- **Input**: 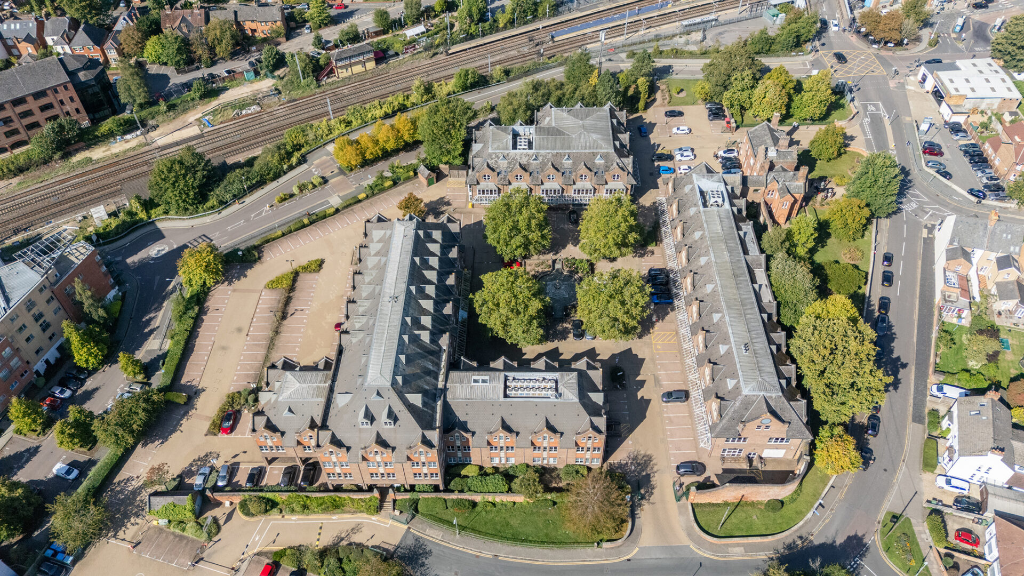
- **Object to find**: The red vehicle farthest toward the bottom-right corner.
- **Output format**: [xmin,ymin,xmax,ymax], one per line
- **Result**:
[953,529,981,546]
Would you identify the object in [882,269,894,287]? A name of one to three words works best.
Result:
vehicle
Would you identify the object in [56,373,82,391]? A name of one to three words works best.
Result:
car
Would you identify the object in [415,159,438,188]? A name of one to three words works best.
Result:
shed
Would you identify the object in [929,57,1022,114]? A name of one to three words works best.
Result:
building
